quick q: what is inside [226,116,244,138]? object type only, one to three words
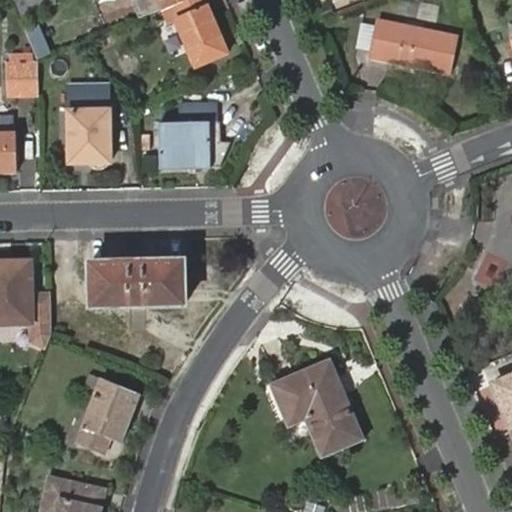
car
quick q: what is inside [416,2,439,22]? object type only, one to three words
shed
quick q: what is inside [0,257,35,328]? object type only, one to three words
house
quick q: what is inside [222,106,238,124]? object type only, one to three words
car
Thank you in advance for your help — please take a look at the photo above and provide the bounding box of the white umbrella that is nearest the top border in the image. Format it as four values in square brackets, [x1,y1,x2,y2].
[14,332,28,346]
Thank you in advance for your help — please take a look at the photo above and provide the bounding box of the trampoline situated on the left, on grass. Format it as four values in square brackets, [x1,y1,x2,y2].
[49,57,70,78]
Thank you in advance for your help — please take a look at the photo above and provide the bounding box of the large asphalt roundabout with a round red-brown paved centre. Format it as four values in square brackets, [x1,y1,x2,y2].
[272,123,432,293]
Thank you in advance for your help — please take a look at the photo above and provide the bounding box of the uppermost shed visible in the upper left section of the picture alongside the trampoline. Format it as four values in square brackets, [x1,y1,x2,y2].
[26,25,50,58]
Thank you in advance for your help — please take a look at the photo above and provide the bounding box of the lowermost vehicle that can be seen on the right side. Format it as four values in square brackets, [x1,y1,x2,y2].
[312,162,335,179]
